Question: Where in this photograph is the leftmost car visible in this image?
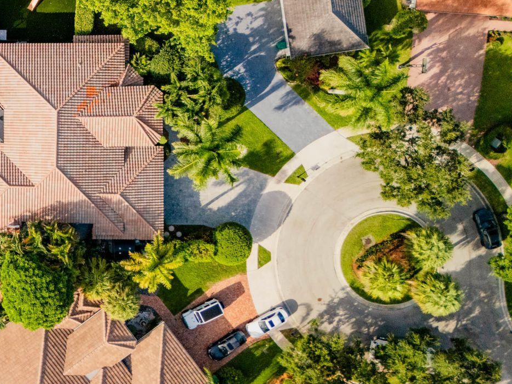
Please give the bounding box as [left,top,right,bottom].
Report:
[180,297,224,329]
